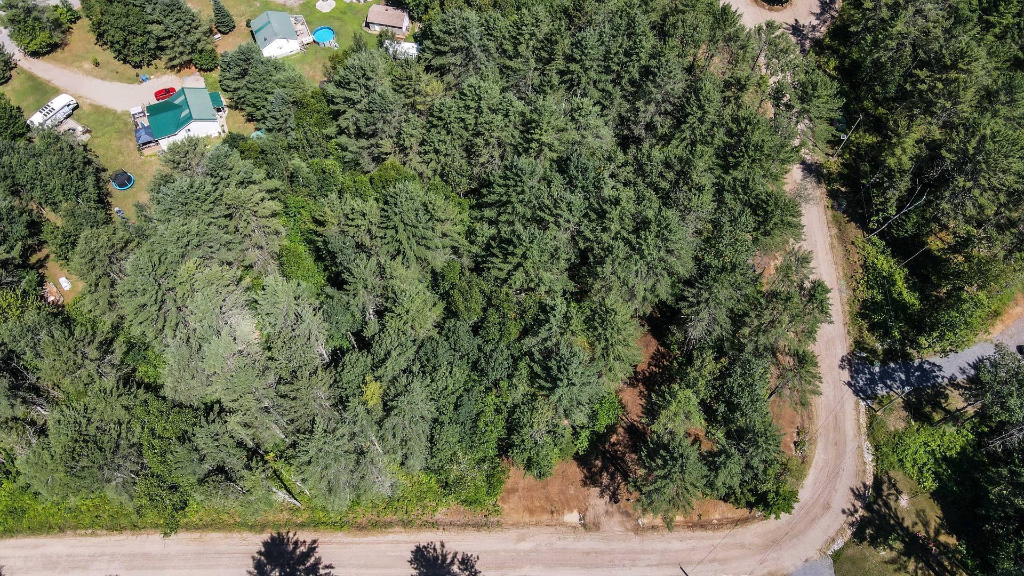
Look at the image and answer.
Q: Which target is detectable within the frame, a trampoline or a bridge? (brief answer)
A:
trampoline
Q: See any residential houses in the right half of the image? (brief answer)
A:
No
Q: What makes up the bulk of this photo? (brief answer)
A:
trees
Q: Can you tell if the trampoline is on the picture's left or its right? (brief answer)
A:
left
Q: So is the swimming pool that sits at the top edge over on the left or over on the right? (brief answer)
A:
left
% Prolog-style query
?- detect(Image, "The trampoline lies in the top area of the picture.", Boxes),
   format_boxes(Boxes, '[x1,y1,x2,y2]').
[109,168,135,192]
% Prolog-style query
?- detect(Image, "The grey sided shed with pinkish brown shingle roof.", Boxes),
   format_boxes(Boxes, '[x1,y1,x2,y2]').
[367,9,409,39]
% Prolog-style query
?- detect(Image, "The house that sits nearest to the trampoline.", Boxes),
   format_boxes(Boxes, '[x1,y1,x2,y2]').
[146,87,230,145]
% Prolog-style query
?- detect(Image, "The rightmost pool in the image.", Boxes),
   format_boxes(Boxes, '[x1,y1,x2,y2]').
[312,26,337,47]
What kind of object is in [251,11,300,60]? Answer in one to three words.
house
